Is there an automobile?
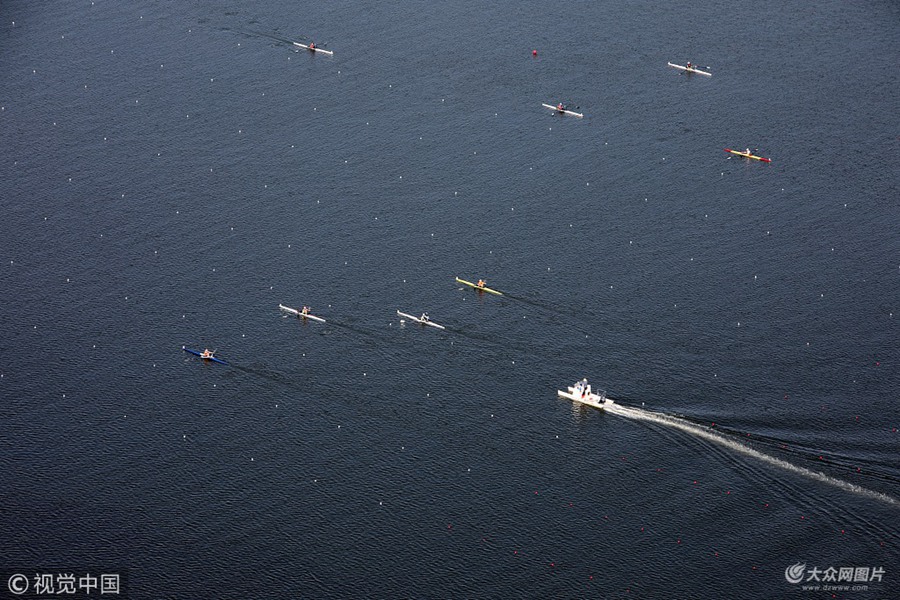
No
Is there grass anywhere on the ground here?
No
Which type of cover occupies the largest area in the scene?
water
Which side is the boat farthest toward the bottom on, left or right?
right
